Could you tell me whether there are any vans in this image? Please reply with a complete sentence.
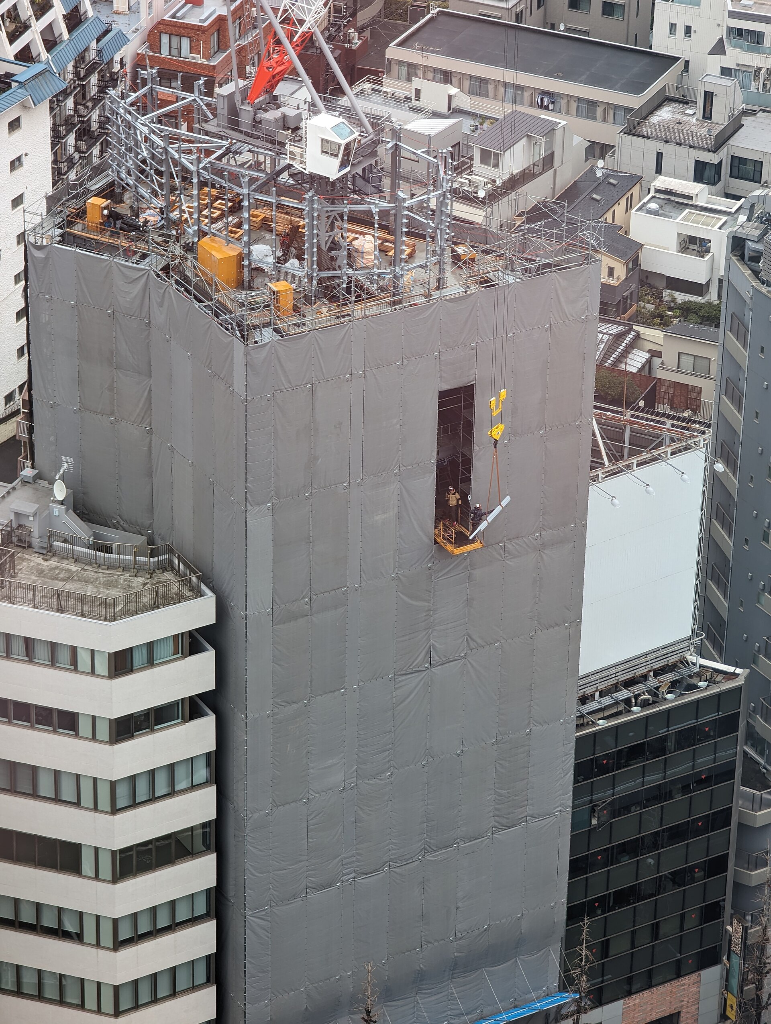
No, the scene contains no van.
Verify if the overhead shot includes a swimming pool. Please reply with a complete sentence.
No, there is no swimming pool in the image.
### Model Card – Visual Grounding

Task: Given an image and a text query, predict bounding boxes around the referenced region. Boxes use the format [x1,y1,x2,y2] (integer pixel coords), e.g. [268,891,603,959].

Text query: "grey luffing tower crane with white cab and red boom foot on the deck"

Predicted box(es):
[188,0,394,295]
